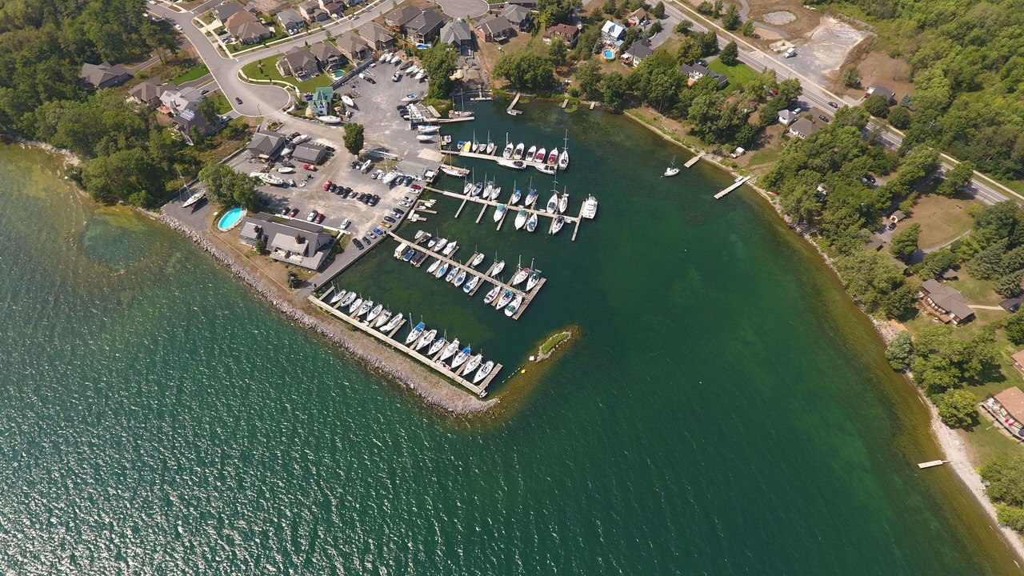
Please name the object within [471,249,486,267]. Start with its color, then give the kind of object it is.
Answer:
white boat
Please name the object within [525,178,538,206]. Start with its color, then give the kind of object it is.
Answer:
white boat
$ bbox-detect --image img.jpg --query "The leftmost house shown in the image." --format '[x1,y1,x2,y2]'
[77,55,132,91]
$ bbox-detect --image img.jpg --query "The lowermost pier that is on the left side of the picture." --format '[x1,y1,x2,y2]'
[307,284,505,394]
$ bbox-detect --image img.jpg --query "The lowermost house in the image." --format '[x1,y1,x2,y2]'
[982,389,1024,441]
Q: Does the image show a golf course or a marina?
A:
marina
